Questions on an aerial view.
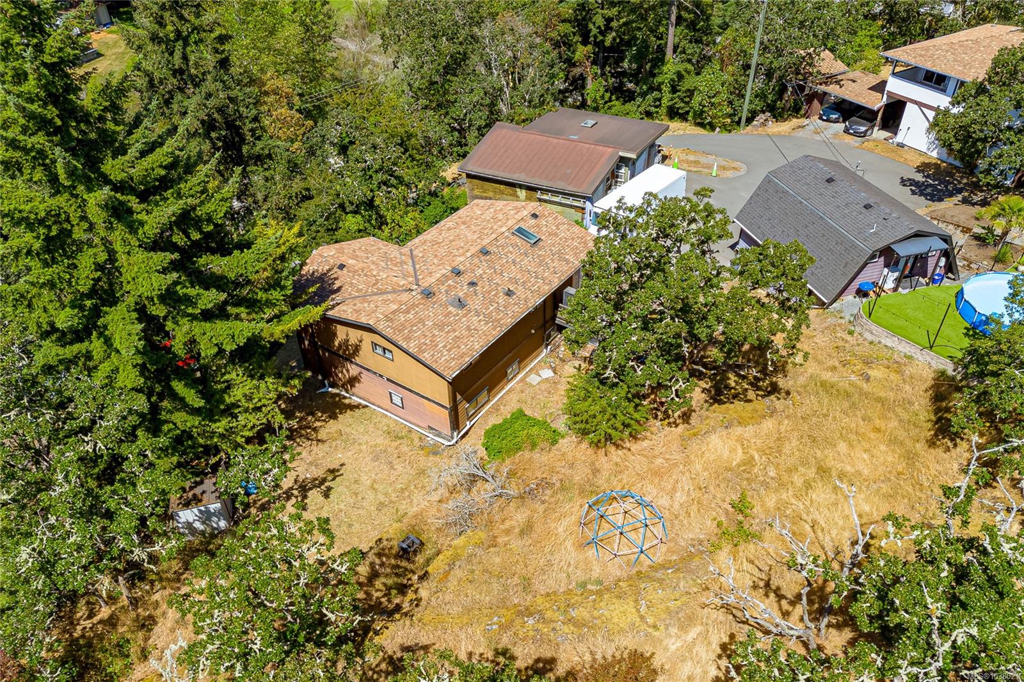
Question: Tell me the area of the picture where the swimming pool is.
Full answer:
Look in the right portion of the view to spot the swimming pool.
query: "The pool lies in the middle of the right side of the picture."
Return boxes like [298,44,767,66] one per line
[951,275,1024,353]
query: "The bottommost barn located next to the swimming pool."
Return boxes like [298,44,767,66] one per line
[734,155,962,307]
